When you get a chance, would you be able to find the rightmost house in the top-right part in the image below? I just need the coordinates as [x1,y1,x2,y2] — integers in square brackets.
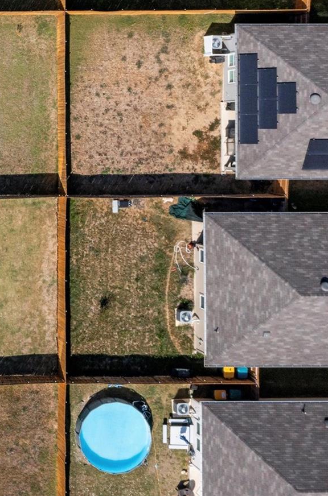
[220,24,328,179]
